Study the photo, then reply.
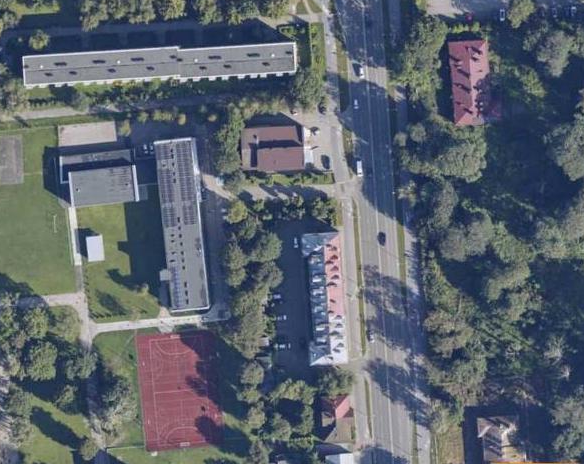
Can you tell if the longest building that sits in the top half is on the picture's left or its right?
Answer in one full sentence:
The longest building that sits in the top half sits on the left side.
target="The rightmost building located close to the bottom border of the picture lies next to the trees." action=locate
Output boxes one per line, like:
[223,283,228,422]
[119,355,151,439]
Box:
[478,416,514,464]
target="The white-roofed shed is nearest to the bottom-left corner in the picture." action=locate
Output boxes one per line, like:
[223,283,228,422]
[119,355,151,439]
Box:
[86,233,105,262]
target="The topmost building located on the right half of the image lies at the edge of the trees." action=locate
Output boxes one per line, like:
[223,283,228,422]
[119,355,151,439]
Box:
[449,41,501,126]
